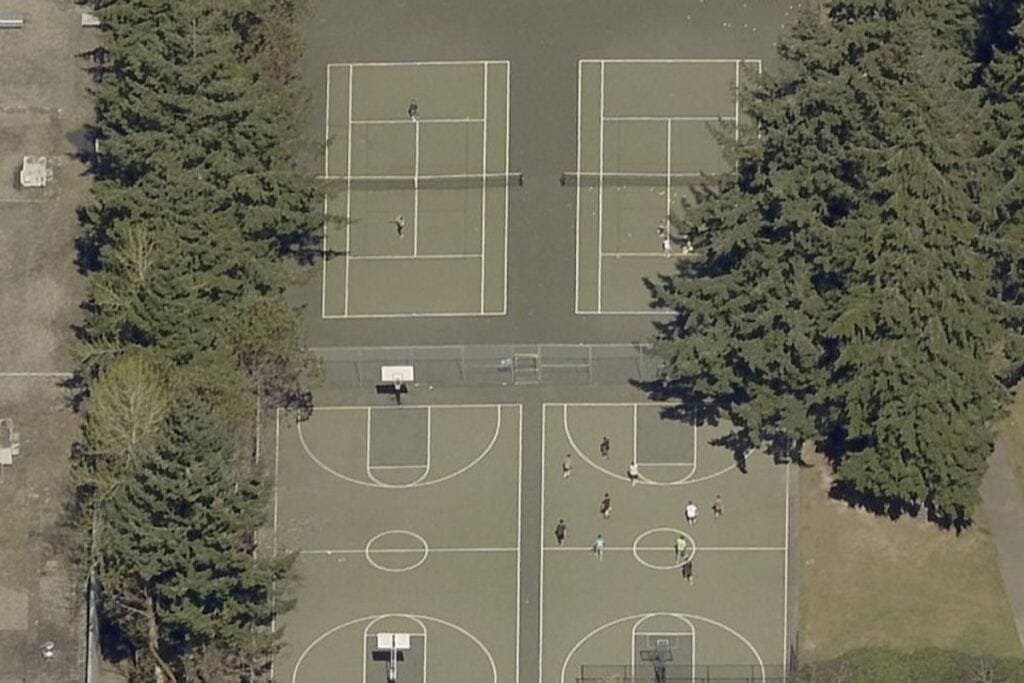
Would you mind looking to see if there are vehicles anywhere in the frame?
No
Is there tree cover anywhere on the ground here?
Yes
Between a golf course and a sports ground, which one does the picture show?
sports ground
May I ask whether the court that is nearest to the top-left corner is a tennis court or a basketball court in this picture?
tennis court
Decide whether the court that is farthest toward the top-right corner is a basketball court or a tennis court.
tennis court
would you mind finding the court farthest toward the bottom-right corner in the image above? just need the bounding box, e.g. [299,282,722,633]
[539,401,788,683]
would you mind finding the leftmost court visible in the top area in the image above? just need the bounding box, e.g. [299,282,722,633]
[323,61,509,317]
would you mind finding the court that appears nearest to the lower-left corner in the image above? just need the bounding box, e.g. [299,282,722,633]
[271,405,522,683]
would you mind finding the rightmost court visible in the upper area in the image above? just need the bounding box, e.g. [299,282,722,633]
[576,58,761,313]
